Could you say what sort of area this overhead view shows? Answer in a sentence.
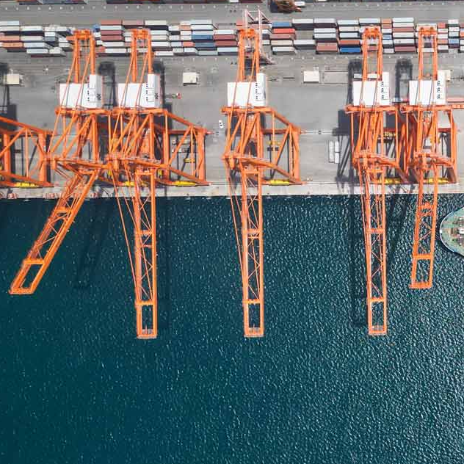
It's a port.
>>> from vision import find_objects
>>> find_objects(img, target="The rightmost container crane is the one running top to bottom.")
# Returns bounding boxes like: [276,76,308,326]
[397,25,464,289]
